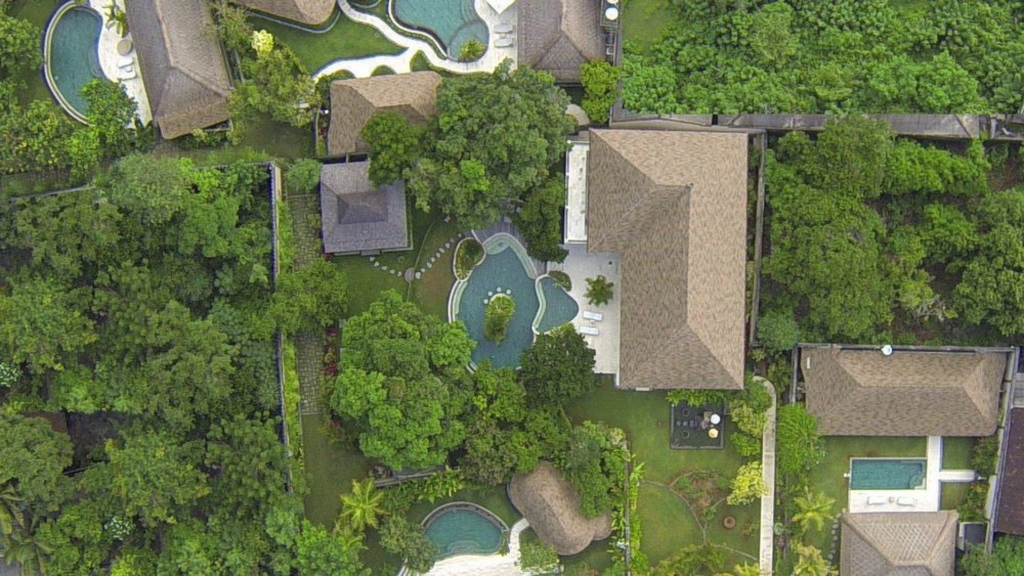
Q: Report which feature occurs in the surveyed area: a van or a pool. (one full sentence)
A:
The one in the frame is a pool.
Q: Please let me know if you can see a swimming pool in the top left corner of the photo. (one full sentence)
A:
Yes, there is a swimming pool in the top left corner of the photo.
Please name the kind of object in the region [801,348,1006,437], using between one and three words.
house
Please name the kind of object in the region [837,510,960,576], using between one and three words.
house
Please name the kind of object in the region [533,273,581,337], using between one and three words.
swimming pool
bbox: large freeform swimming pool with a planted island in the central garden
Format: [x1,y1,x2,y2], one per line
[448,231,540,372]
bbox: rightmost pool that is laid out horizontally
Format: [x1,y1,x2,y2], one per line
[850,458,928,492]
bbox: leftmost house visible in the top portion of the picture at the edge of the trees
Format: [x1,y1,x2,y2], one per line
[127,0,233,138]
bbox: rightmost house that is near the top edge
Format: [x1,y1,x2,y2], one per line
[518,0,609,82]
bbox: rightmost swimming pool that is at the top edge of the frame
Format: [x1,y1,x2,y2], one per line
[388,0,491,63]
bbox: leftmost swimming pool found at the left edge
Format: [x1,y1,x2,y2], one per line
[41,0,115,126]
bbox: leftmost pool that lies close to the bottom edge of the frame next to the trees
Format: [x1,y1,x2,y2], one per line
[421,501,510,564]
